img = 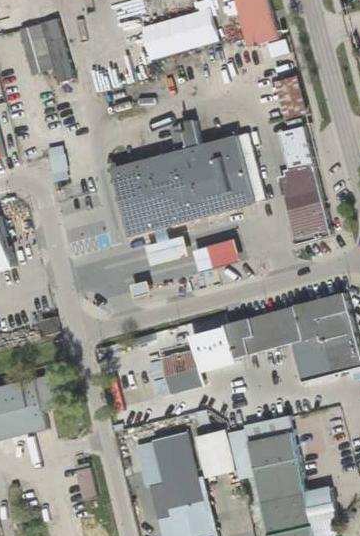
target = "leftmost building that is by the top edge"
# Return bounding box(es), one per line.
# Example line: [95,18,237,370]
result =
[22,18,79,83]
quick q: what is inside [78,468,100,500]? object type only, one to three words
shed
